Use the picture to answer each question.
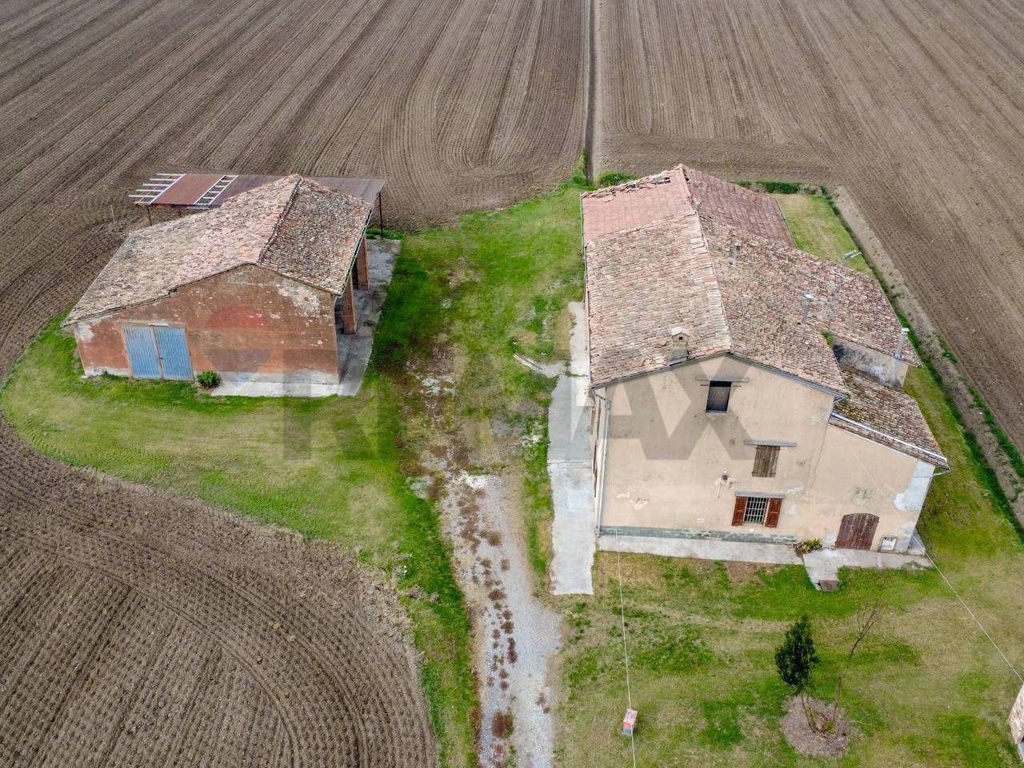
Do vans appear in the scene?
No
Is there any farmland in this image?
Yes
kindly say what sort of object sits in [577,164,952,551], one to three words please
house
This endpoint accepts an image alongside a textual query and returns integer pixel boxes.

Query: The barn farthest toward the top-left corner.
[59,172,373,382]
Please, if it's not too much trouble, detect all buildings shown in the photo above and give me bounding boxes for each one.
[59,172,373,382]
[577,164,952,551]
[1008,682,1024,768]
